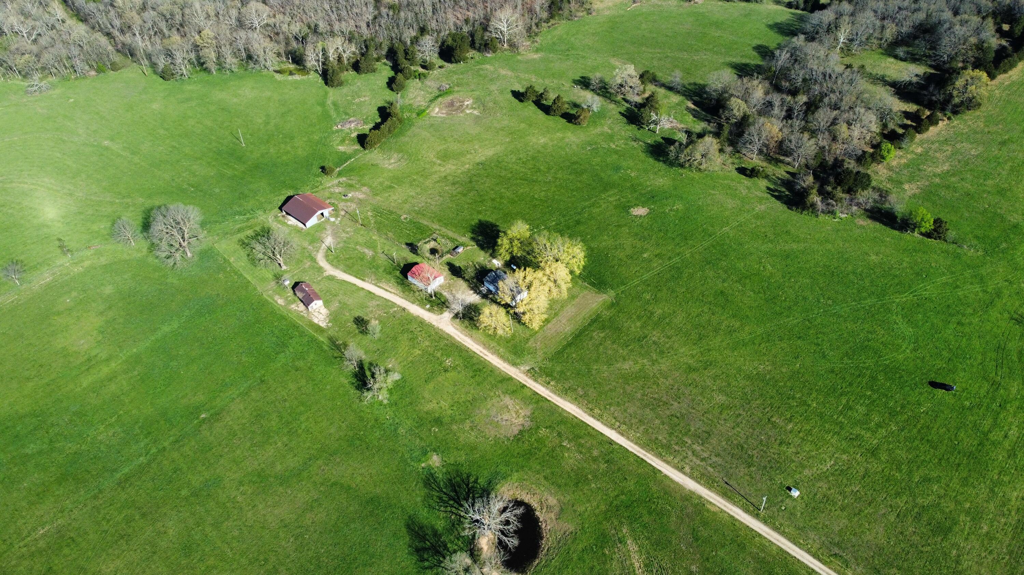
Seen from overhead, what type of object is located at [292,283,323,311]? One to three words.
shed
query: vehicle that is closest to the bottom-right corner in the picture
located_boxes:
[934,381,955,393]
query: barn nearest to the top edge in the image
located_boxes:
[277,194,335,228]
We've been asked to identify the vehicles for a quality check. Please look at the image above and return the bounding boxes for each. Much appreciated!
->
[934,381,955,393]
[489,259,502,267]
